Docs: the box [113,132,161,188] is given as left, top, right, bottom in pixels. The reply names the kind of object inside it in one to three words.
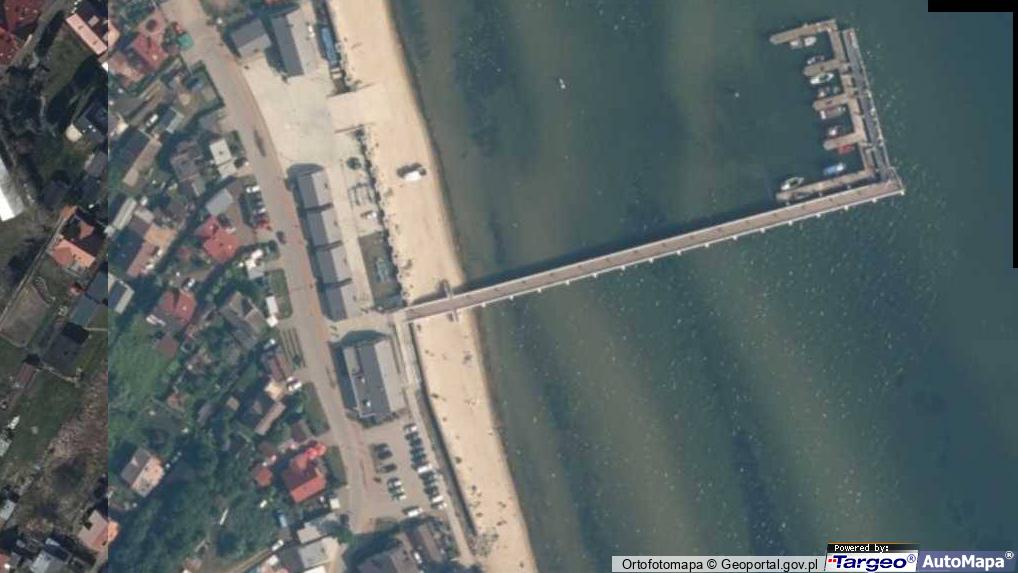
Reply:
barn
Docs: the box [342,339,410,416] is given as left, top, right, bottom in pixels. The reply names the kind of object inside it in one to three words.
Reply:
building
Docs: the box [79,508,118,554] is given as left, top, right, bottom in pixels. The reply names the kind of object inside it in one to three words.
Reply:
house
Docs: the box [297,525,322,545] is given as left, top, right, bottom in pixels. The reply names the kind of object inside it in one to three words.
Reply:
shed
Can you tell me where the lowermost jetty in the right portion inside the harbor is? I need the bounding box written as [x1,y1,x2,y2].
[776,170,870,199]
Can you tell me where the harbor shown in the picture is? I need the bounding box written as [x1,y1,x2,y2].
[769,20,897,200]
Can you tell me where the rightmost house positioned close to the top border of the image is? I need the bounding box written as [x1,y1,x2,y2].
[271,9,319,78]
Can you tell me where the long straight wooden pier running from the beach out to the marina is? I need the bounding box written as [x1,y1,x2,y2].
[403,177,906,322]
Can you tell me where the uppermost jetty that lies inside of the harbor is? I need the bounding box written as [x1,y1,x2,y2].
[770,20,833,44]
